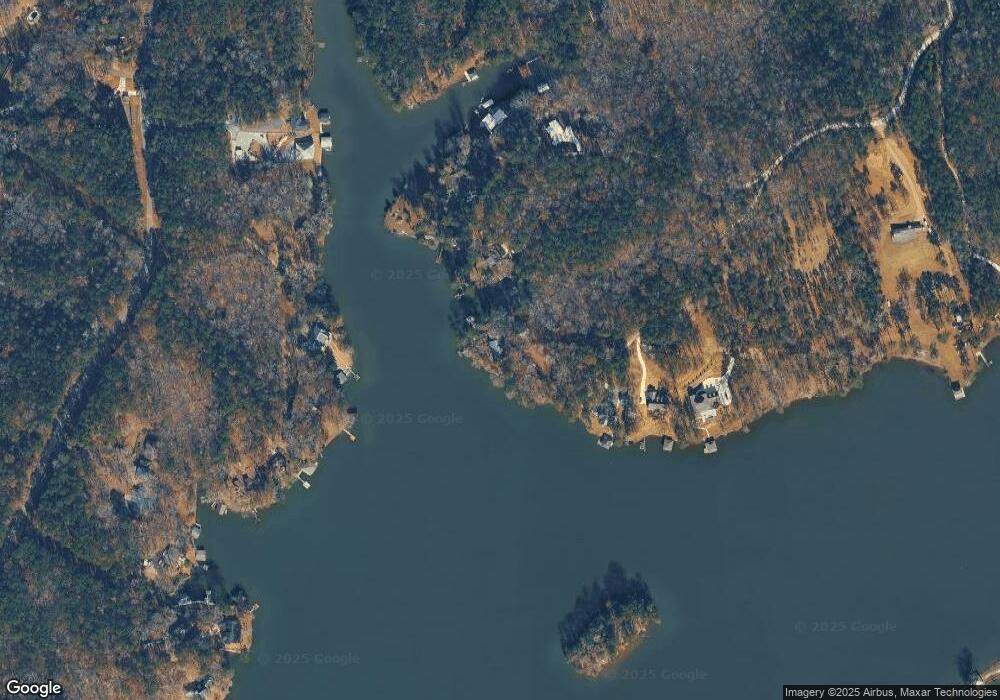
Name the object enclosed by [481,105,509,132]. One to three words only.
house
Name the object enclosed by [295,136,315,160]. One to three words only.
house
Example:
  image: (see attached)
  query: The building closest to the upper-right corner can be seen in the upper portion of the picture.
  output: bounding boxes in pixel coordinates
[891,222,925,242]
